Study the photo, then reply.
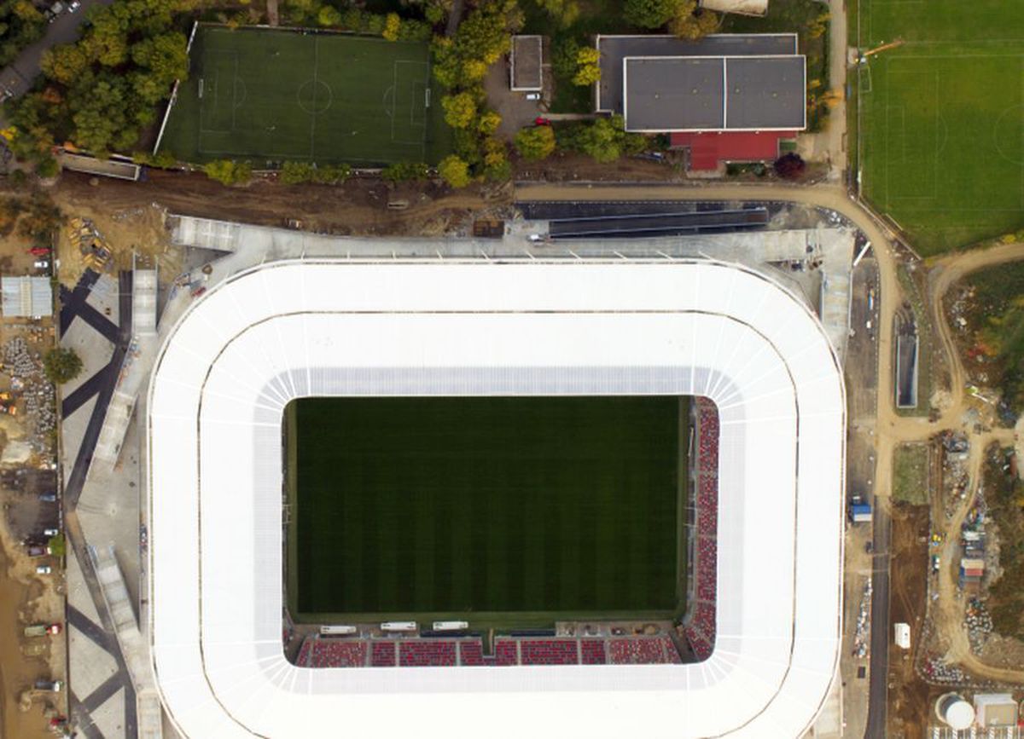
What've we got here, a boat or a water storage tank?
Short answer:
water storage tank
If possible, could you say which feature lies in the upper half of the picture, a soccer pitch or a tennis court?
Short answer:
soccer pitch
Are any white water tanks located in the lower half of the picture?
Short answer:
Yes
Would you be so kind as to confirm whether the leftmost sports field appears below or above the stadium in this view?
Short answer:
above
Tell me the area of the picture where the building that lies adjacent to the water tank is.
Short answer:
bottom right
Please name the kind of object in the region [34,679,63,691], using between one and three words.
vehicle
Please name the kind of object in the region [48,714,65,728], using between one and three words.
work vehicle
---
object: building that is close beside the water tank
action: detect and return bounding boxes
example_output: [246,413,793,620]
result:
[975,693,1016,727]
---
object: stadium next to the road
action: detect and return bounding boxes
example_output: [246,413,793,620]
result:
[152,248,847,739]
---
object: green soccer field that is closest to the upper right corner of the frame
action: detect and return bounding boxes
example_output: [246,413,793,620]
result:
[857,0,1024,258]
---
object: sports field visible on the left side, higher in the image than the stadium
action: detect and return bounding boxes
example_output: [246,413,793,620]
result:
[157,24,455,172]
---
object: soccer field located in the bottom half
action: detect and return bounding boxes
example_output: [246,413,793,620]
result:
[289,395,688,625]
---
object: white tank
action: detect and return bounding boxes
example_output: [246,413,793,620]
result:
[935,692,973,731]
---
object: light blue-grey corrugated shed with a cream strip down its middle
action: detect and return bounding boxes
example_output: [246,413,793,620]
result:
[2,275,54,317]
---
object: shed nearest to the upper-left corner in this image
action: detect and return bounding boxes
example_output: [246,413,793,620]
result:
[61,150,142,180]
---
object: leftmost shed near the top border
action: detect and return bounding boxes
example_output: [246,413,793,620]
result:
[509,35,543,90]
